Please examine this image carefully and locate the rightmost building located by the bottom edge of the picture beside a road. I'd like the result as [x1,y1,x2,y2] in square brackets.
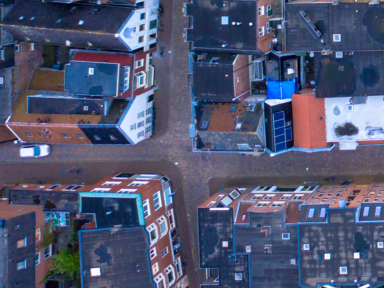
[298,182,384,288]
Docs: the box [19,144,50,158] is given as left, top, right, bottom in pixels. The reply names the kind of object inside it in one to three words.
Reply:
car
